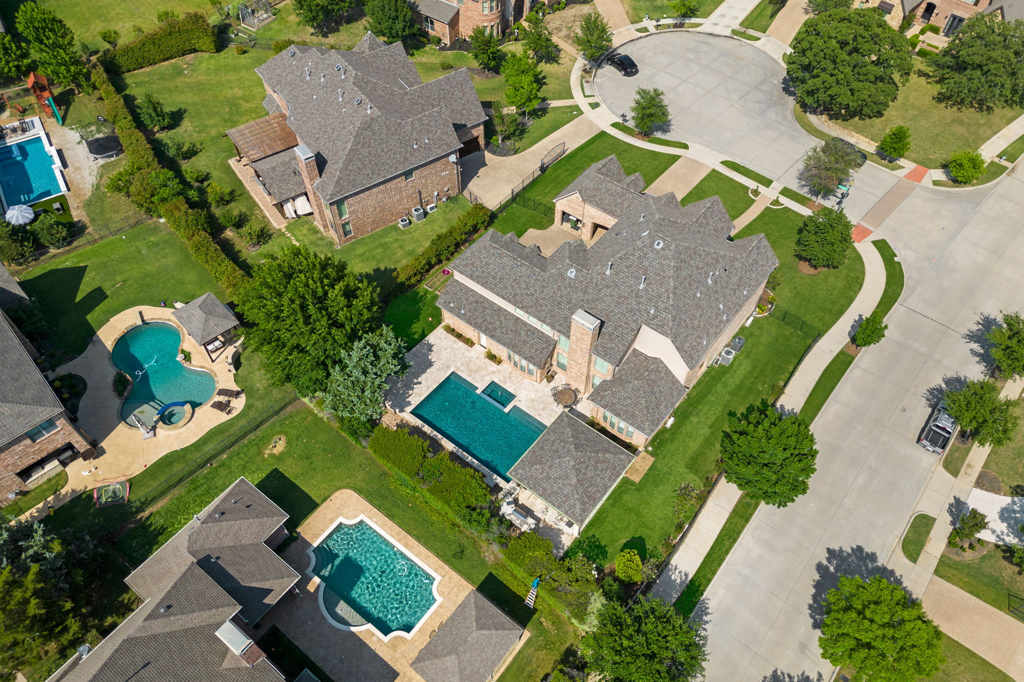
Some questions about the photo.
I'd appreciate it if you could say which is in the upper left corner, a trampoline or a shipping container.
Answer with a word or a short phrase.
trampoline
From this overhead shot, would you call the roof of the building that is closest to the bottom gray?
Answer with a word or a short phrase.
Yes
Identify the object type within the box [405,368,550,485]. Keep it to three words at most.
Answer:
swimming pool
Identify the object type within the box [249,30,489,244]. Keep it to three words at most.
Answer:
house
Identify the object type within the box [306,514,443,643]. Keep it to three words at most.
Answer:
swimming pool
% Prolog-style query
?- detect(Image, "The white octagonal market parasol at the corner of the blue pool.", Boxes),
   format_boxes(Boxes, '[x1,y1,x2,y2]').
[3,205,38,232]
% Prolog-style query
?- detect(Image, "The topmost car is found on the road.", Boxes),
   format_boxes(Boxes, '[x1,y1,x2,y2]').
[610,54,638,72]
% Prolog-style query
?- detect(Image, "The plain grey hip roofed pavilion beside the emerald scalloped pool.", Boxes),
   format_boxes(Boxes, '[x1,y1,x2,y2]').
[408,588,530,682]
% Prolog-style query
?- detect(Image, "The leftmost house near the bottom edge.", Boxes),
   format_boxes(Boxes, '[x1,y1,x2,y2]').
[44,476,302,682]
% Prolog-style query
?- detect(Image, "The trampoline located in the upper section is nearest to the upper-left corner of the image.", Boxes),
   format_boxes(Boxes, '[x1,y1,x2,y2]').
[78,114,123,155]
